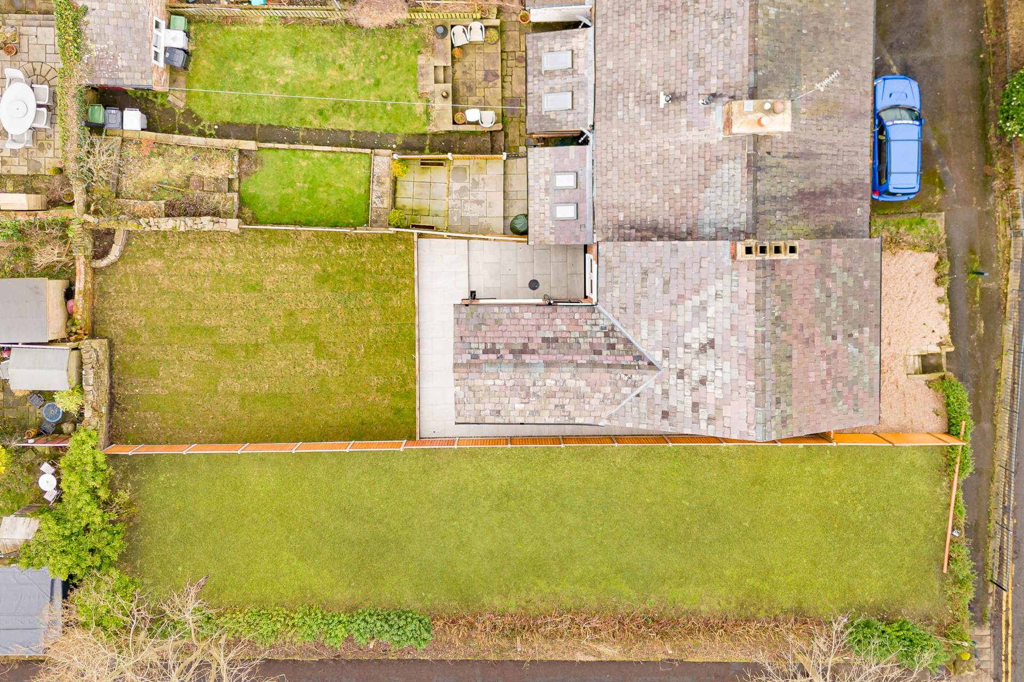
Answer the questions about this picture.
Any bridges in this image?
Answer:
No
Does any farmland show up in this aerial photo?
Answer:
No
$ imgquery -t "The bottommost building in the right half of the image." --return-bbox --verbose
[451,238,884,442]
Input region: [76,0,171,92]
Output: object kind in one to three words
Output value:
shed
